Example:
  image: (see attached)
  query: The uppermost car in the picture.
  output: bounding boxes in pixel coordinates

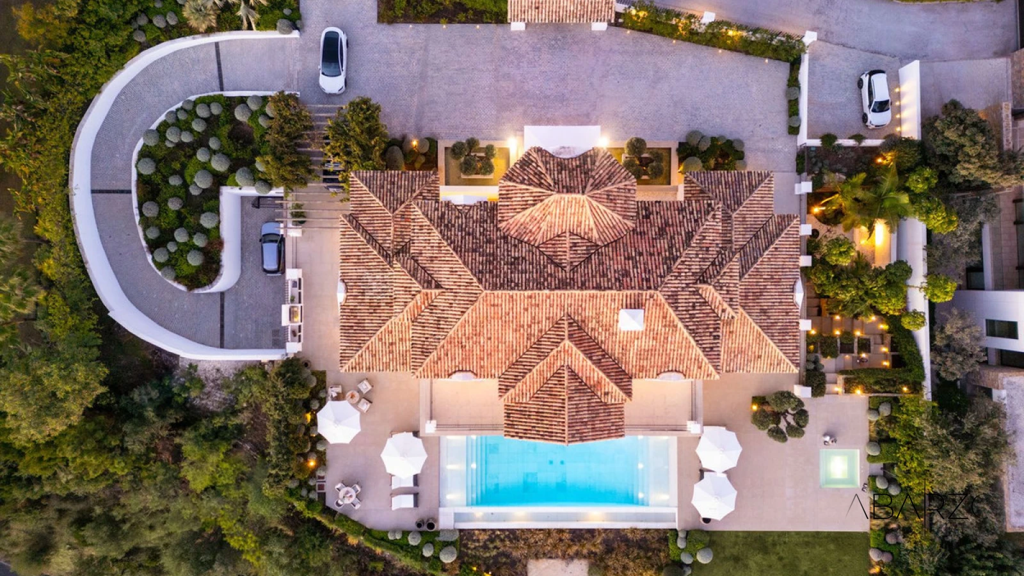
[315,29,351,99]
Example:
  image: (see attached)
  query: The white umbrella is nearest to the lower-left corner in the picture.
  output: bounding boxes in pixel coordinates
[317,401,360,444]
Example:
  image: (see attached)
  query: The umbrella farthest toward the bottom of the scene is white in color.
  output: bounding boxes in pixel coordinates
[692,473,737,519]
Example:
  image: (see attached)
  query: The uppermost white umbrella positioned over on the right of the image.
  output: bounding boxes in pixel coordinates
[695,426,742,473]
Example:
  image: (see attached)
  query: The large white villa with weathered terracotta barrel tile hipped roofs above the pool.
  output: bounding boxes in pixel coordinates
[338,125,802,447]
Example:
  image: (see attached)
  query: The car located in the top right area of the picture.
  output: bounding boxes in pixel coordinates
[852,70,892,130]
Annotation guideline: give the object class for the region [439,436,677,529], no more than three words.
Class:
swimming pool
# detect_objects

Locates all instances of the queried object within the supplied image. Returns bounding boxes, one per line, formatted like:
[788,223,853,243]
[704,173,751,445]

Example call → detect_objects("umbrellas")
[692,473,737,519]
[380,432,427,479]
[695,426,742,473]
[317,401,360,444]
